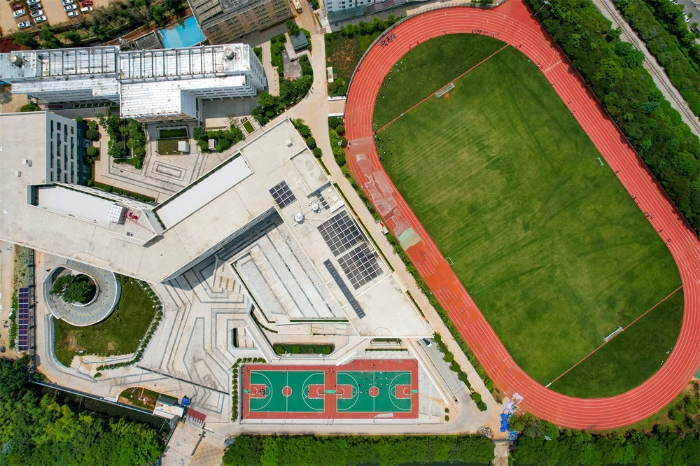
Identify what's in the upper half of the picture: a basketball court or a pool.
pool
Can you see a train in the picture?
No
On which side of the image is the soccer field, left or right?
right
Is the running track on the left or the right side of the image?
right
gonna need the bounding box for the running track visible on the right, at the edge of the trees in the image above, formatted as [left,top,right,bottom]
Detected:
[344,0,700,425]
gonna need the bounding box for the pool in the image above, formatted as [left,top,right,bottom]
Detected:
[157,15,206,47]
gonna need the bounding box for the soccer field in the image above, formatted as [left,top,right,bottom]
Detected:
[374,31,684,395]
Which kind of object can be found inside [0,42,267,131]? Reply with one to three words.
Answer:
building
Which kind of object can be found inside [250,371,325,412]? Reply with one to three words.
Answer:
basketball court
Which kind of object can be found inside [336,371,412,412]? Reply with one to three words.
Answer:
basketball court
